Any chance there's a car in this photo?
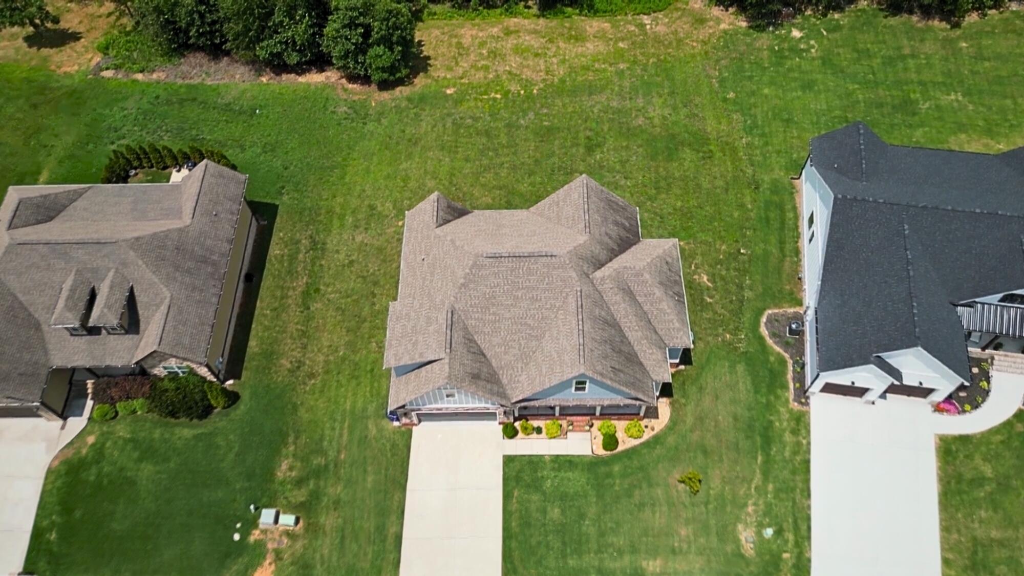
No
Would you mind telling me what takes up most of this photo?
grass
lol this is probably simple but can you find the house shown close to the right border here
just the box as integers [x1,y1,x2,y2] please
[790,122,1024,405]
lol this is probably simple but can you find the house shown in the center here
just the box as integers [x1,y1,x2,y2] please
[382,175,694,432]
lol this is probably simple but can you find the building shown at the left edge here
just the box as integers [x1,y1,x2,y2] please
[0,158,271,421]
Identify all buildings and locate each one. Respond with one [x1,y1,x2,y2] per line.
[0,158,271,421]
[790,122,1024,405]
[382,175,694,432]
